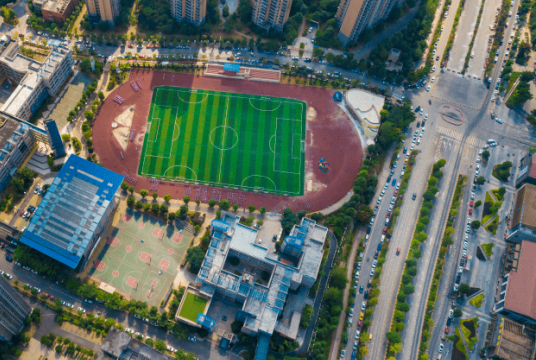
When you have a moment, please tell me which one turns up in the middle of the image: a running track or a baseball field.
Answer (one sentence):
Visible in the middle of the image is a running track.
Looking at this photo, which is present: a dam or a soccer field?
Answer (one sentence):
This aerial view contains a soccer field.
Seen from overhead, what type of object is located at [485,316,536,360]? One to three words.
building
